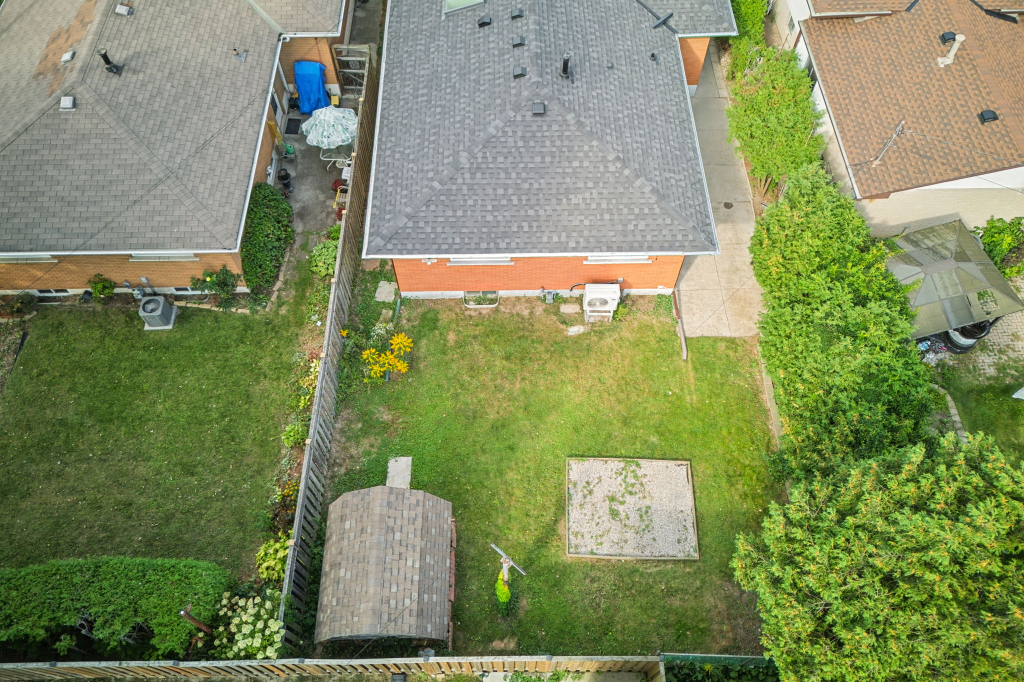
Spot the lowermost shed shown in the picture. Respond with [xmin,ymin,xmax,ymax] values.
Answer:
[315,488,453,646]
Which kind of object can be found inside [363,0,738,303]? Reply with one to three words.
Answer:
house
